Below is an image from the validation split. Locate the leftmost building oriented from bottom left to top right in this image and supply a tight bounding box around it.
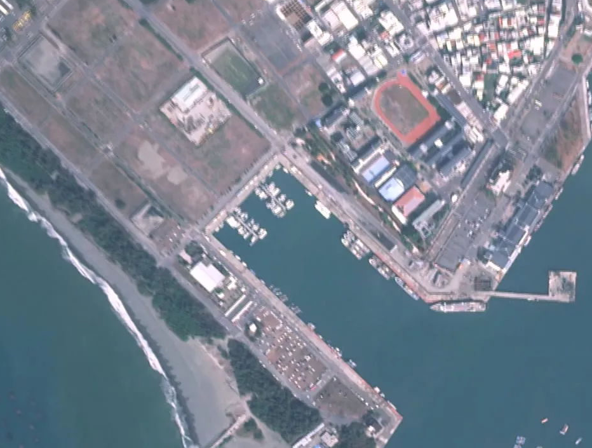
[176,77,208,102]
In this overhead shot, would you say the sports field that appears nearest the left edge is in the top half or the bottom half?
top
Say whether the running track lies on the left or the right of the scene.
right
